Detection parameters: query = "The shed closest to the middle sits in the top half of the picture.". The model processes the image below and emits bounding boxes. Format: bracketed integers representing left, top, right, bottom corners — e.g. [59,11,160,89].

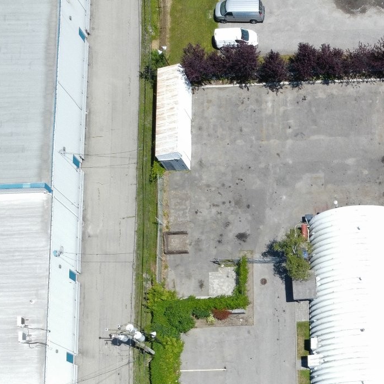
[156,64,188,169]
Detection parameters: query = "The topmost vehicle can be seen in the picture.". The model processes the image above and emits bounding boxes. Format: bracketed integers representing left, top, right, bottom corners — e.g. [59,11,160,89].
[214,0,267,23]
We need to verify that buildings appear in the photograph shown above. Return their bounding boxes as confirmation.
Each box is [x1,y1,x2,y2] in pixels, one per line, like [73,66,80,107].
[293,200,384,384]
[156,64,188,169]
[0,0,92,384]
